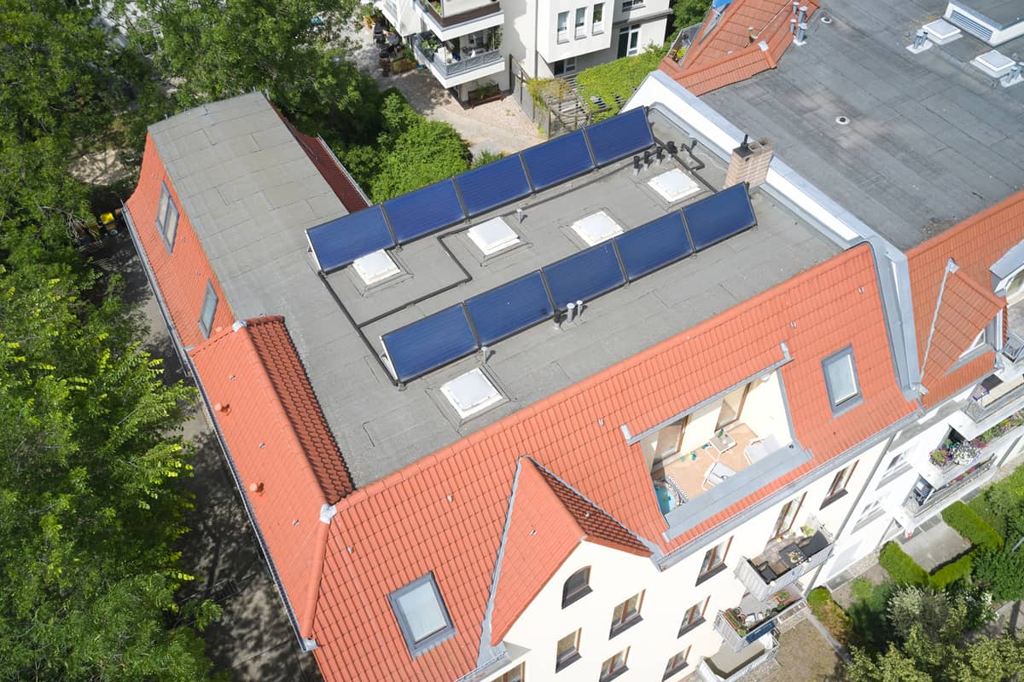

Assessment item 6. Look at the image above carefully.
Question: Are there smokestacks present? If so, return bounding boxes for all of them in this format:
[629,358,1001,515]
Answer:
[721,136,765,190]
